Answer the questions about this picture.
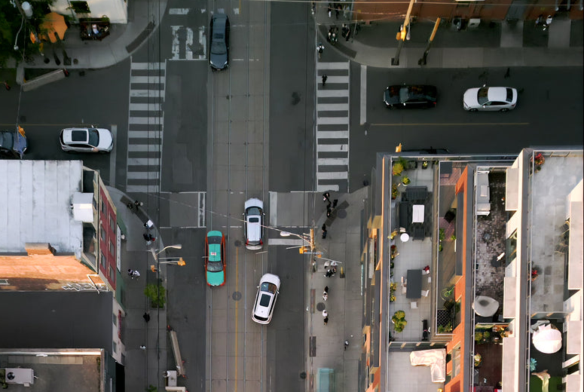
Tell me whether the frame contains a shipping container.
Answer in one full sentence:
No, this view has no shipping container in it.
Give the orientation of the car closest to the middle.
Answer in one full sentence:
The car closest to the middle is laid out from top to bottom.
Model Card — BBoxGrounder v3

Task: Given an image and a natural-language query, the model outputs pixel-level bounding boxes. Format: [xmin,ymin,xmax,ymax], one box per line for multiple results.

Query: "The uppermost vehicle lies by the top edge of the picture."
[207,13,232,73]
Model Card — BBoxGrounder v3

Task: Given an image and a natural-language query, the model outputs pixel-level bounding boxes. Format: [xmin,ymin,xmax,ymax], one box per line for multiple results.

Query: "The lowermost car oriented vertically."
[252,274,280,326]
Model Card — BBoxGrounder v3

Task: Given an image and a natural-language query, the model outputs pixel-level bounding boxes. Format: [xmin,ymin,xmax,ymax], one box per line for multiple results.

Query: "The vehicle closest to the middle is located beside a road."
[241,200,265,252]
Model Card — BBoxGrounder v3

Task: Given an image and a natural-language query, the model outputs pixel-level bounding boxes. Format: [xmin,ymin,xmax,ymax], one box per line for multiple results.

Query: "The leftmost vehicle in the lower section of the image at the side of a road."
[203,231,228,290]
